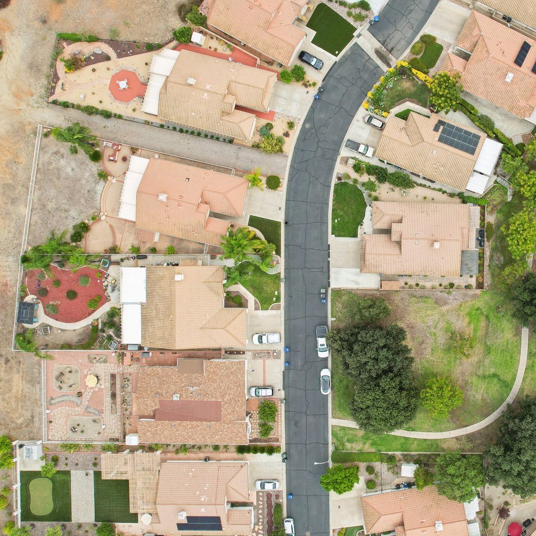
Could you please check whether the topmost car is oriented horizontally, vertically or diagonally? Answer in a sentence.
From this overhead view, the topmost car appears to run diagonally.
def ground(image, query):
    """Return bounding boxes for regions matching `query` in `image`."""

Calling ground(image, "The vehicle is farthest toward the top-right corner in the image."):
[363,114,386,130]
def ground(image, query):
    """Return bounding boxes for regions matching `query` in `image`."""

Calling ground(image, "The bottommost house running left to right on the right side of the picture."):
[360,484,482,536]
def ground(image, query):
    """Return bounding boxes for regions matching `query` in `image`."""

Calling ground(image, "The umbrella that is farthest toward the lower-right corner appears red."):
[508,523,522,536]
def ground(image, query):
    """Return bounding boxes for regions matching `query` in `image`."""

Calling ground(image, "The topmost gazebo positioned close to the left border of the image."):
[17,301,47,324]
